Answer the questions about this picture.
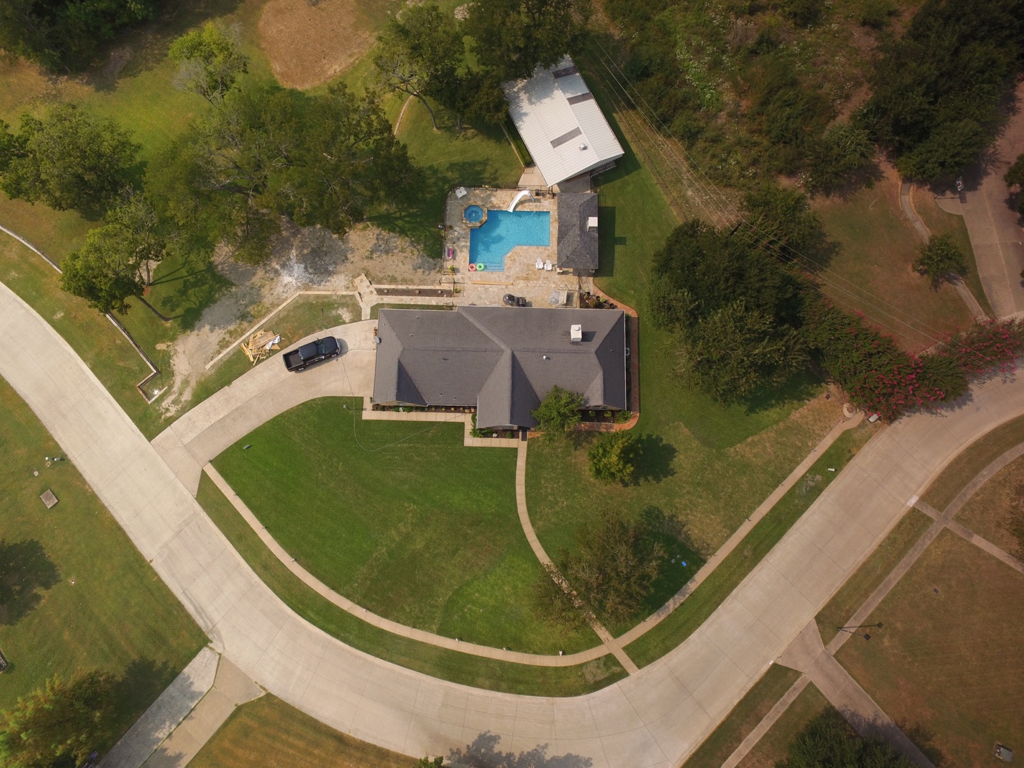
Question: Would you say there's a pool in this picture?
Yes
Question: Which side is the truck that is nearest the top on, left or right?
left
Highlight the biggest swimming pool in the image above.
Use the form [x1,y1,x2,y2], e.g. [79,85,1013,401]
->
[466,207,553,274]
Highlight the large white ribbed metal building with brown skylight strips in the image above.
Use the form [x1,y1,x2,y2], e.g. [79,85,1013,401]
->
[494,53,625,193]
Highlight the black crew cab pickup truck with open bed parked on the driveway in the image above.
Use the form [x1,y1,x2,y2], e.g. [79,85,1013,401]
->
[282,340,340,372]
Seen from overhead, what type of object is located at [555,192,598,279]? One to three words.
building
